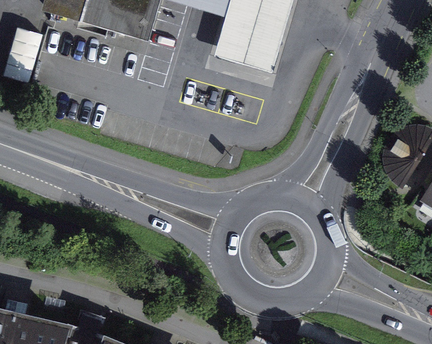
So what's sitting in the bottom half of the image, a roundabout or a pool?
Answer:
roundabout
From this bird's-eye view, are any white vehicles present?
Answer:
Yes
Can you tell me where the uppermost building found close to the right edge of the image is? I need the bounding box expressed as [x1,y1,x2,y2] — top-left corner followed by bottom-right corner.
[384,124,432,189]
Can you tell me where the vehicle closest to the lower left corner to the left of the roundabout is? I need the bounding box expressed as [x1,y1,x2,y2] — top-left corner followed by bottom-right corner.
[150,217,173,234]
